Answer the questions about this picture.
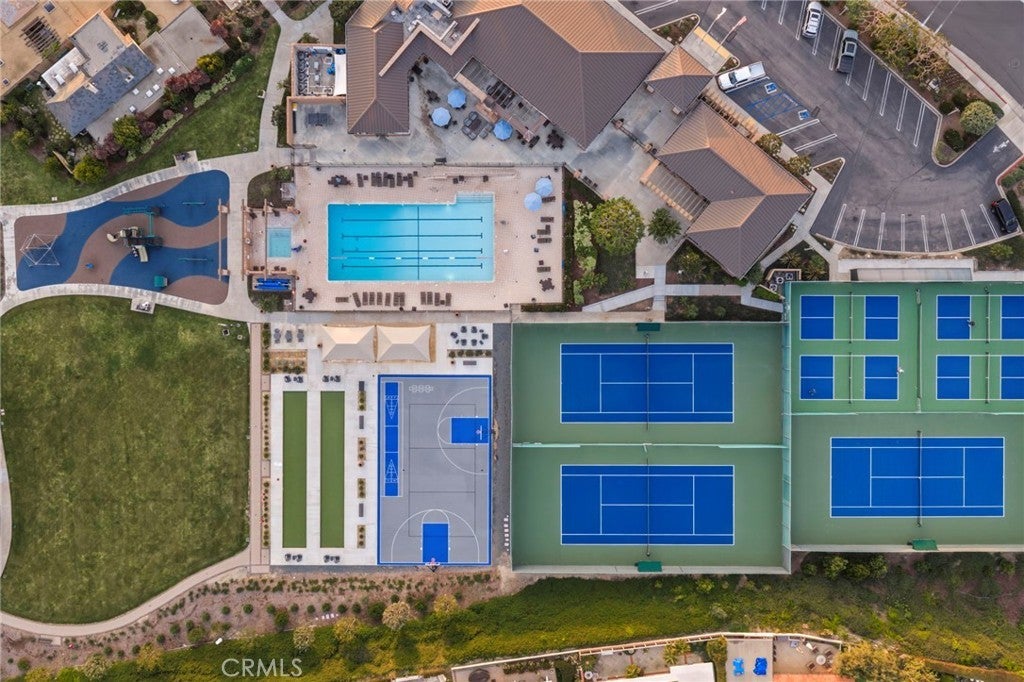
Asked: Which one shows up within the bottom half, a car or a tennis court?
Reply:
tennis court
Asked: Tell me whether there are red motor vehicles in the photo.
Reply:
No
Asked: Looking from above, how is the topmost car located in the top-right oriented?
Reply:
up and down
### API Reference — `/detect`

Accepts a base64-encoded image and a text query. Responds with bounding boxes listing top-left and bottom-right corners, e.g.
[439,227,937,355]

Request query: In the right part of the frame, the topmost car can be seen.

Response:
[800,3,821,40]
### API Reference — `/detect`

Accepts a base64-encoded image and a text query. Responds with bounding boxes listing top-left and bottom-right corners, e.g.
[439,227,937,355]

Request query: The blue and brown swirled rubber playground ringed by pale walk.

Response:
[15,170,230,304]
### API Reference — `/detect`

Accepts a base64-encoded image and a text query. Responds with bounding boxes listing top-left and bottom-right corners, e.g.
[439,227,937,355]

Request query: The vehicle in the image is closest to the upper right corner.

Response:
[835,30,860,75]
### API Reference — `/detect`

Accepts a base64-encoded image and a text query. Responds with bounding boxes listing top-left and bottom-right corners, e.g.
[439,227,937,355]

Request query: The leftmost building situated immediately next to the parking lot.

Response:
[344,0,666,150]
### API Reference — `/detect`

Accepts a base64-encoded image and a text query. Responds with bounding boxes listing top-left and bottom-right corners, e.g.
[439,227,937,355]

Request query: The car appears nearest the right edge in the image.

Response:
[989,197,1016,234]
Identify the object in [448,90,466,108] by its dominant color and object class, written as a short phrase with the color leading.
blue umbrella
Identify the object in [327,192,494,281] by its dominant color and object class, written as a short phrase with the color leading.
blue swimming pool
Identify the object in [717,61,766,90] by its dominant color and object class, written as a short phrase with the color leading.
white truck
